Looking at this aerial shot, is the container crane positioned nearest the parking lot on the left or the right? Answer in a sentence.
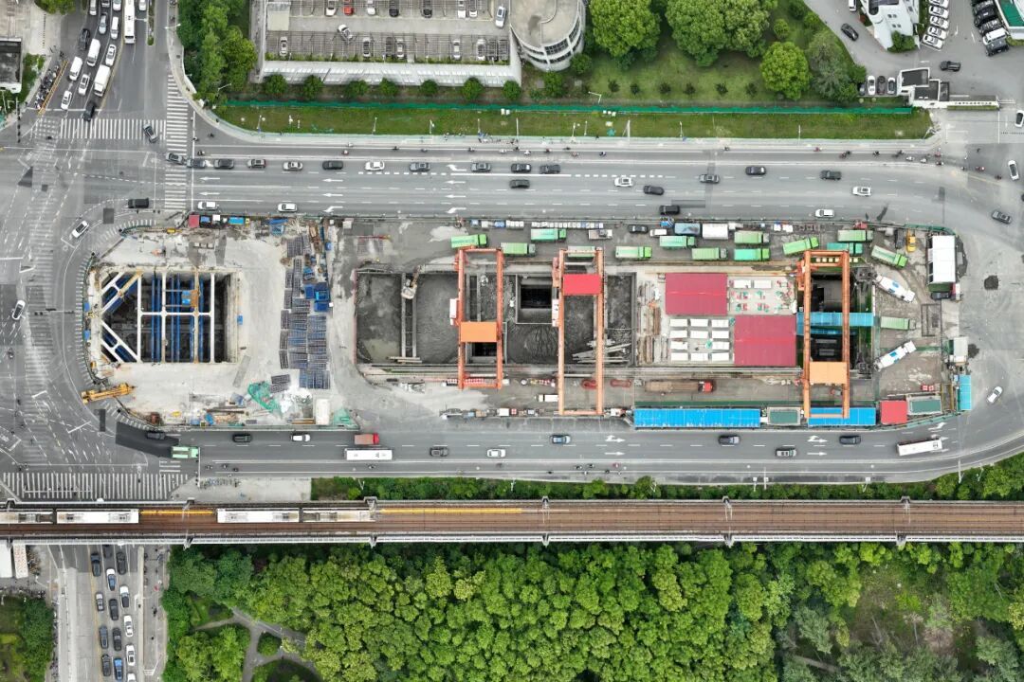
It is on the right.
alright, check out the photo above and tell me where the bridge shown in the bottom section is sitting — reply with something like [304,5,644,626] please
[0,497,1024,549]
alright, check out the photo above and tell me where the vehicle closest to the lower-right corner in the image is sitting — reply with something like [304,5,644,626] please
[896,437,947,456]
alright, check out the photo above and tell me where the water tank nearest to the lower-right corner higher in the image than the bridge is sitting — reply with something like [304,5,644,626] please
[906,395,942,416]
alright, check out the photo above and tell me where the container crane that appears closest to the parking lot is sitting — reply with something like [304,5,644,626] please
[793,250,853,427]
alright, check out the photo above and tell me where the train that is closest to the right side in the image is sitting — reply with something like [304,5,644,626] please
[217,507,378,522]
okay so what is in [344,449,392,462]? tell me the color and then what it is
white vehicle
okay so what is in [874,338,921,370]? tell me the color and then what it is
white truck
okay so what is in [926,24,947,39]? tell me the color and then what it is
white car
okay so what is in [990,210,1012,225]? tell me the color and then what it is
gray car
